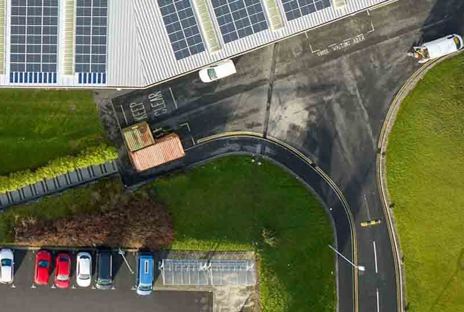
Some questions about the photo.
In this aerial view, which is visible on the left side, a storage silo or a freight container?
freight container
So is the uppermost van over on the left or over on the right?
right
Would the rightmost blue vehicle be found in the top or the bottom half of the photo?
bottom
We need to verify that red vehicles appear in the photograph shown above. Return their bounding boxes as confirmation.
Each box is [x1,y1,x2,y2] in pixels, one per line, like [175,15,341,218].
[34,249,52,284]
[54,251,71,286]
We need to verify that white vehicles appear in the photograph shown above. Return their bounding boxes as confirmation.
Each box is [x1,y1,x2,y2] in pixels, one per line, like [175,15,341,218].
[75,250,93,284]
[196,58,239,85]
[408,33,464,70]
[0,247,15,284]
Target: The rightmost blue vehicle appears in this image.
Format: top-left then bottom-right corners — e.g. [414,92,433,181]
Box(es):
[134,248,155,294]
